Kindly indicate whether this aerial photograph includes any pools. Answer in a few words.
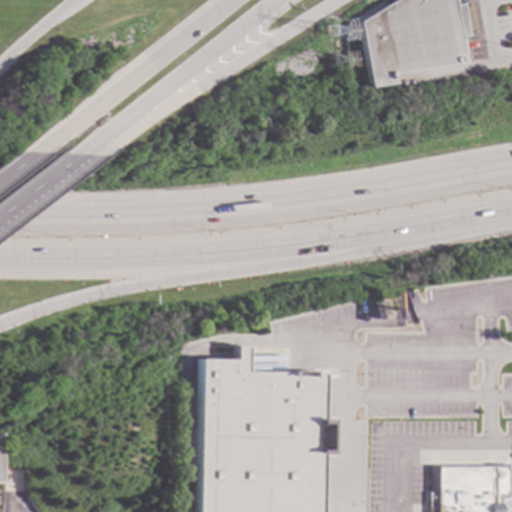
No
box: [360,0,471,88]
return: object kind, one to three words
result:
building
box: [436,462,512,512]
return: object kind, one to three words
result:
building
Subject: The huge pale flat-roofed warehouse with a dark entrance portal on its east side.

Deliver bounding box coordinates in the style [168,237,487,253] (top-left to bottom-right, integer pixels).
[196,344,344,512]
